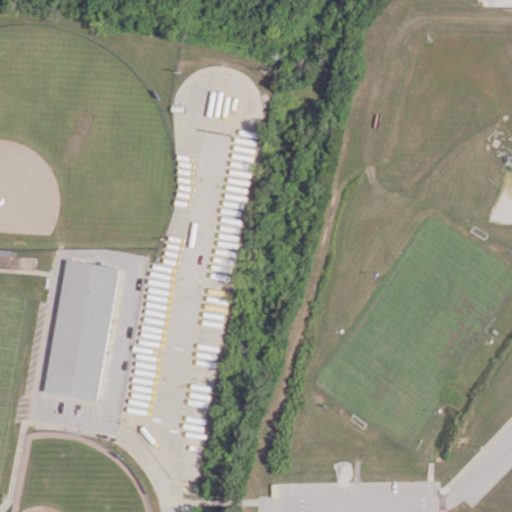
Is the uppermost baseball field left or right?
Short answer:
left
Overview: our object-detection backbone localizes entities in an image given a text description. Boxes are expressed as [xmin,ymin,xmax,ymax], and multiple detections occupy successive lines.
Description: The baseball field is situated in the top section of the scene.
[0,26,173,248]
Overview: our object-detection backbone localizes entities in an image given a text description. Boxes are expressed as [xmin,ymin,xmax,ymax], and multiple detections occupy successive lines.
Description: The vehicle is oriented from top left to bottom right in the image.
[140,426,158,448]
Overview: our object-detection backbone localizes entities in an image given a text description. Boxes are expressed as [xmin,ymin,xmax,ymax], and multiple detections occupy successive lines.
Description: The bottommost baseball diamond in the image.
[13,432,150,512]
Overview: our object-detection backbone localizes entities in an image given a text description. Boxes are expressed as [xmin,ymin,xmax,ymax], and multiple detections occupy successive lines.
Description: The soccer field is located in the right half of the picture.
[322,220,512,444]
